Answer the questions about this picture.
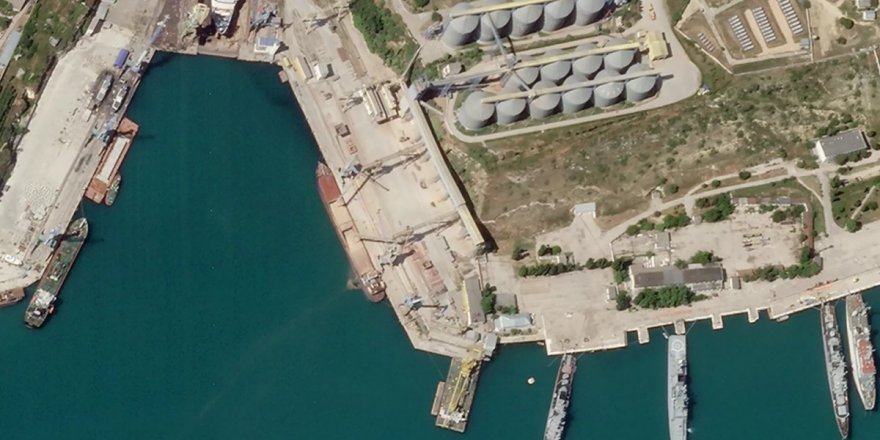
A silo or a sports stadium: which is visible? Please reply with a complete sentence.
There is a silo in the scene.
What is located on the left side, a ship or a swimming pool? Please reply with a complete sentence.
Visible on the left side is a ship.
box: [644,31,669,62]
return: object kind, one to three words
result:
shed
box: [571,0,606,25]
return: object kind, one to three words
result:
silo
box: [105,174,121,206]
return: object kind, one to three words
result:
boat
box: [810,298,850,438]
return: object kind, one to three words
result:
ship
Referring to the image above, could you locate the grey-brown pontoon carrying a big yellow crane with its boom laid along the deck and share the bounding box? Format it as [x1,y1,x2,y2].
[436,358,481,432]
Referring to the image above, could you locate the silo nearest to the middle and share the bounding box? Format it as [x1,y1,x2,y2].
[460,92,495,130]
